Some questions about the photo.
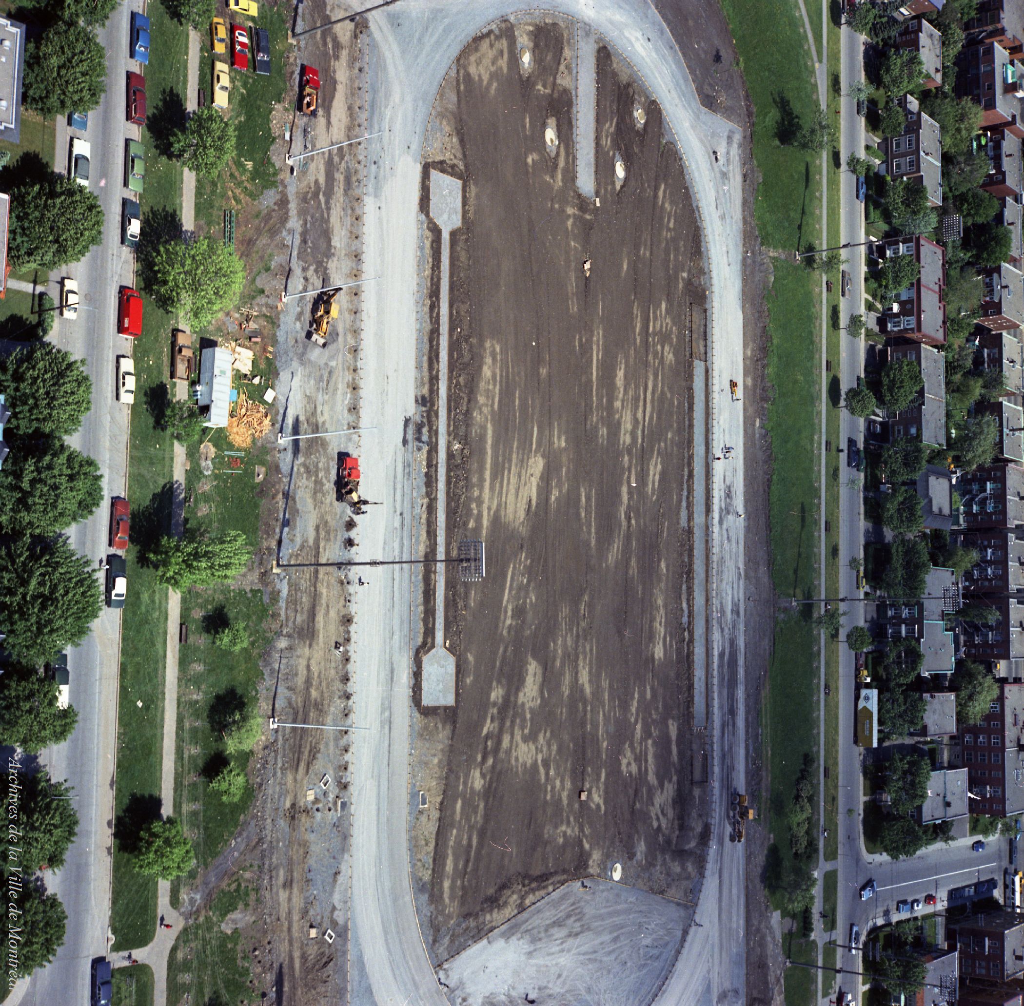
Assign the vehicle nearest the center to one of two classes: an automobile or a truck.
truck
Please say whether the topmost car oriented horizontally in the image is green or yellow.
yellow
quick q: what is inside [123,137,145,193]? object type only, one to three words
car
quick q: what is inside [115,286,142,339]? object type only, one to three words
vehicle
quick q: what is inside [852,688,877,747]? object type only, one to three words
trailer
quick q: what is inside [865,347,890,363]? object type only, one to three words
building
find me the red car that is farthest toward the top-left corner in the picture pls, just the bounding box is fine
[125,70,147,126]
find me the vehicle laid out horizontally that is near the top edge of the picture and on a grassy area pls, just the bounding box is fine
[223,0,263,20]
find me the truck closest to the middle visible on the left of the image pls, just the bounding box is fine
[334,456,388,516]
